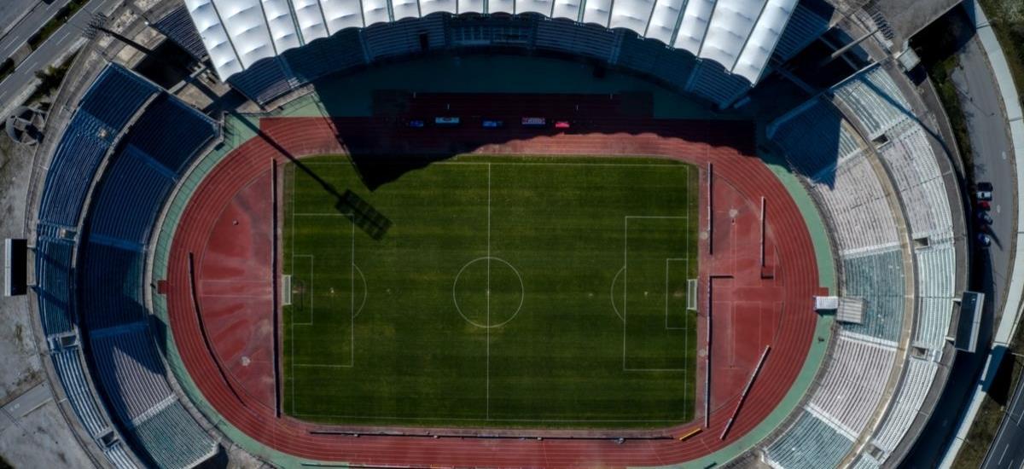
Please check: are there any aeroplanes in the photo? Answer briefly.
No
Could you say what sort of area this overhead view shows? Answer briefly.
sports ground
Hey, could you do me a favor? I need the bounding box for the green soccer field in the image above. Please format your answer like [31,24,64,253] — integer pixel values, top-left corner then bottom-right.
[284,154,698,427]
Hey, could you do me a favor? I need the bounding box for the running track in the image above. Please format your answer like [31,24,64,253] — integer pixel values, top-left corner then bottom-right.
[159,92,829,469]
